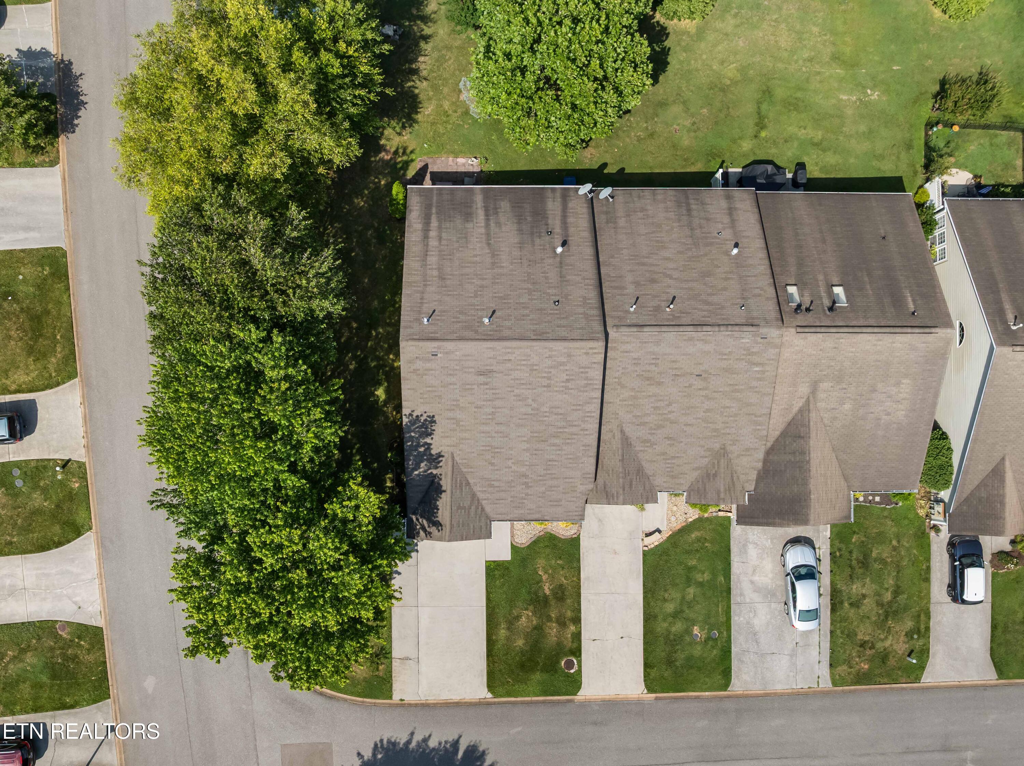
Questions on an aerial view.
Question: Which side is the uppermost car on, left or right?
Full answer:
The uppermost car is on the left side of the image.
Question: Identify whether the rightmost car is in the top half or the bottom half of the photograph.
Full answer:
It is in the bottom half that the rightmost car appears.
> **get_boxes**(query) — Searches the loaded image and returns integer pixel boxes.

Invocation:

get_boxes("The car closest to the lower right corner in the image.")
[941,539,988,609]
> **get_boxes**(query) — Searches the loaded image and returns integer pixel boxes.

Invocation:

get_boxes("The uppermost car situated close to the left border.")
[0,411,25,448]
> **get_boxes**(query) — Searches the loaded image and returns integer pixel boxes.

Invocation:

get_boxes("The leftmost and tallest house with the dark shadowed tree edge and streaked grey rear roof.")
[400,183,606,542]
